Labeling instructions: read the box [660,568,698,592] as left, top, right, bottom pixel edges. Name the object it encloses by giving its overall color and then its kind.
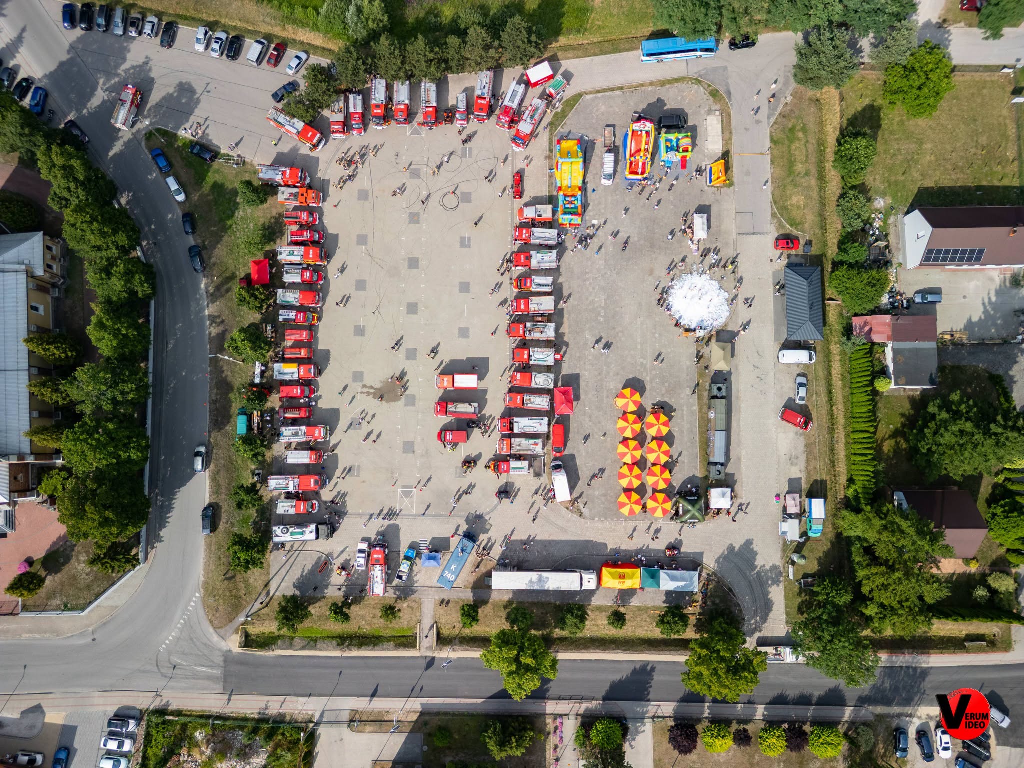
white tent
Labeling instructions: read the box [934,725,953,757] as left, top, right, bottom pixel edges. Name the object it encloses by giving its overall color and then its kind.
white car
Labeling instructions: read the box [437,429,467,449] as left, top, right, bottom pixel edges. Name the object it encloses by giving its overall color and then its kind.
red vehicle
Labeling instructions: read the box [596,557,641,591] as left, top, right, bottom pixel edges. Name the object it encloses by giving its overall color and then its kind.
yellow tent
